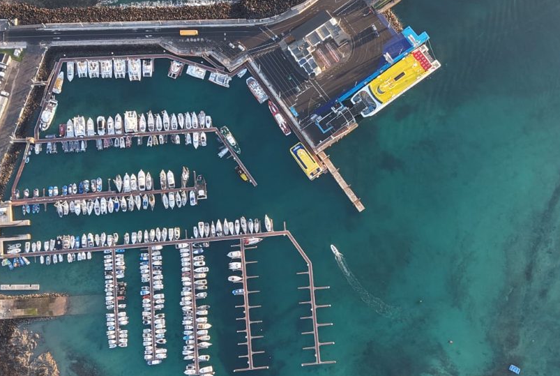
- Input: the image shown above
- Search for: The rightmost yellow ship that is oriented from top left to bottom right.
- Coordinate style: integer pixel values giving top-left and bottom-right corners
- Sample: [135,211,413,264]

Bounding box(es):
[294,147,322,180]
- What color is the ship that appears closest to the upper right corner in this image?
yellow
